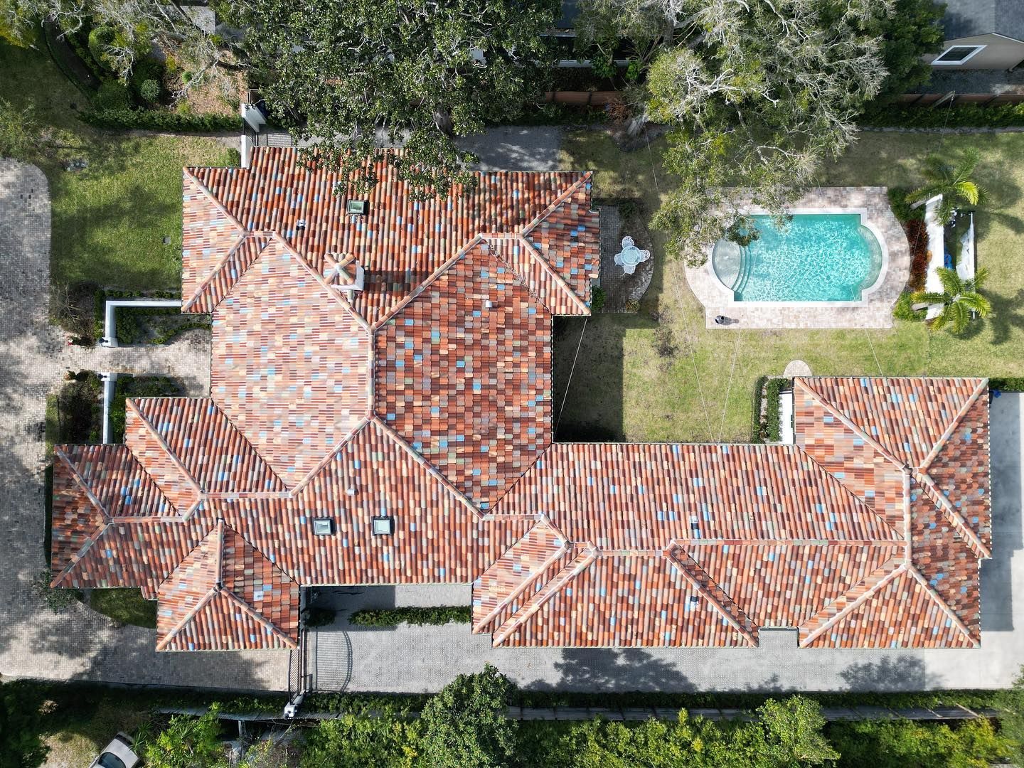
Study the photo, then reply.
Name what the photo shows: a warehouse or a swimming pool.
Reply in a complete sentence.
The one in the frame is a swimming pool.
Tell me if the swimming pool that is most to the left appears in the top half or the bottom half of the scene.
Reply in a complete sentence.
The swimming pool that is most to the left sits in the top half of the picture.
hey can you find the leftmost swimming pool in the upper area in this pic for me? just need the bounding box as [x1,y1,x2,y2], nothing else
[706,207,889,308]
